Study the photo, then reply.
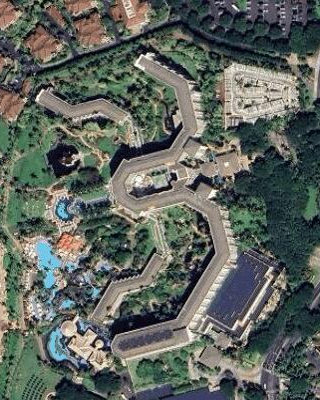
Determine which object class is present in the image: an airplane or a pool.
pool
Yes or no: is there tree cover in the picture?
Yes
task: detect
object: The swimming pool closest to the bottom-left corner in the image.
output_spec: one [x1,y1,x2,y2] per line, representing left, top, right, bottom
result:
[49,328,68,362]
